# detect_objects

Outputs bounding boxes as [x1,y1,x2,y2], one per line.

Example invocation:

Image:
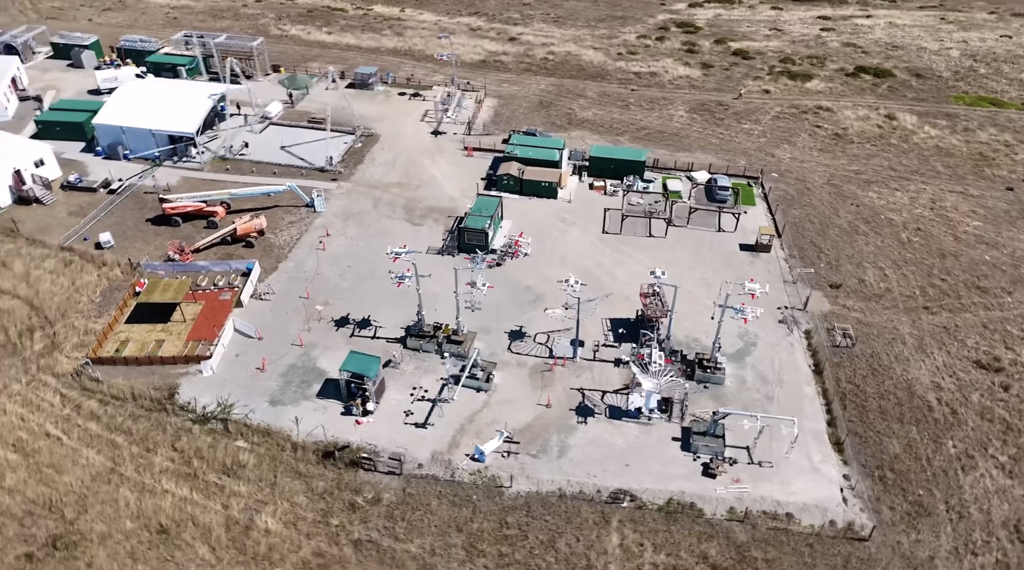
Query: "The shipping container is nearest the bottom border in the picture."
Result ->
[459,193,502,255]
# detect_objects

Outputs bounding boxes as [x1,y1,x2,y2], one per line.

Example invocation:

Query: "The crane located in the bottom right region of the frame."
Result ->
[708,406,799,456]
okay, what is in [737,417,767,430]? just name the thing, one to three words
airplane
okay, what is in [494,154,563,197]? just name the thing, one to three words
shed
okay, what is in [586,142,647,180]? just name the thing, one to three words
shipping container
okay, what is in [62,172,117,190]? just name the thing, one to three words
trailer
